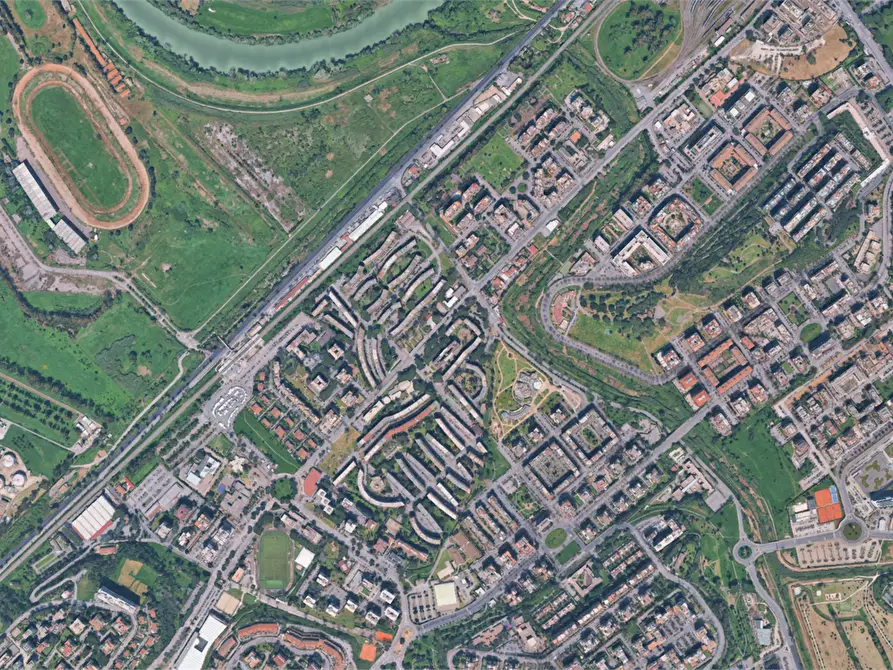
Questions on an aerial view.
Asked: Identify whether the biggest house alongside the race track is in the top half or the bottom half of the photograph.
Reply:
top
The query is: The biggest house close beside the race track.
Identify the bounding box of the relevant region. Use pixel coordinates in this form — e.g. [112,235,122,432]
[72,18,106,66]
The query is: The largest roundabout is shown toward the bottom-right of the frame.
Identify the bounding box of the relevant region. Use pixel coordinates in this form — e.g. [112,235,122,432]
[836,516,868,547]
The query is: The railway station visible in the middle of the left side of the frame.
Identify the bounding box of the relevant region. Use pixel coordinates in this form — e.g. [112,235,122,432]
[215,334,262,380]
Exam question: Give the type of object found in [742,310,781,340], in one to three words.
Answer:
building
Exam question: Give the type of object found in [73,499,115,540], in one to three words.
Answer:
shed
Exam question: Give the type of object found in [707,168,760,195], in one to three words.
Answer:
house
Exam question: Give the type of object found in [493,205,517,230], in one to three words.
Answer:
building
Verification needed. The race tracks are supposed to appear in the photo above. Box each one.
[11,64,148,229]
